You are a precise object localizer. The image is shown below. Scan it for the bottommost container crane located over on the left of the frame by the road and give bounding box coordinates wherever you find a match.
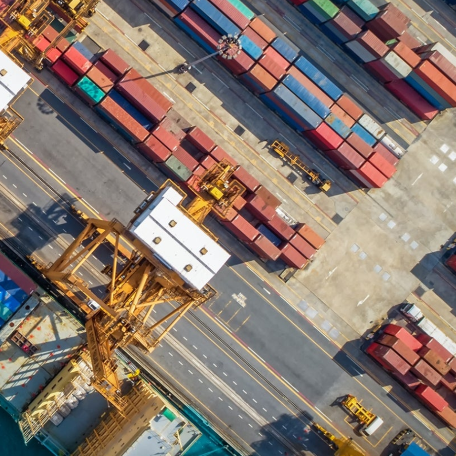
[32,160,257,432]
